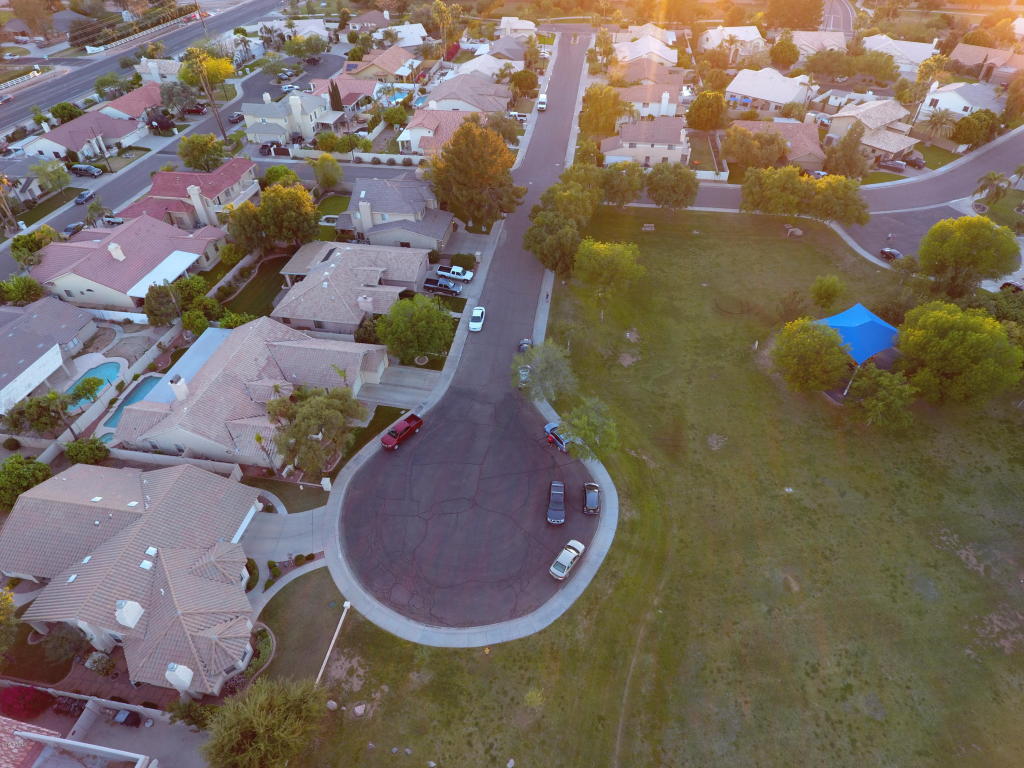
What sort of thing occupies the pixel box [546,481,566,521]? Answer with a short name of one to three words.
car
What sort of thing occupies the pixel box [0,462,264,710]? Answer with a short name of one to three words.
house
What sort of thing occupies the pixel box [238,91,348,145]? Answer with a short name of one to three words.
house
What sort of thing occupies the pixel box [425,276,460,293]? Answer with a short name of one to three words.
vehicle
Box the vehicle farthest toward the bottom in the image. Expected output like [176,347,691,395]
[550,540,585,580]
